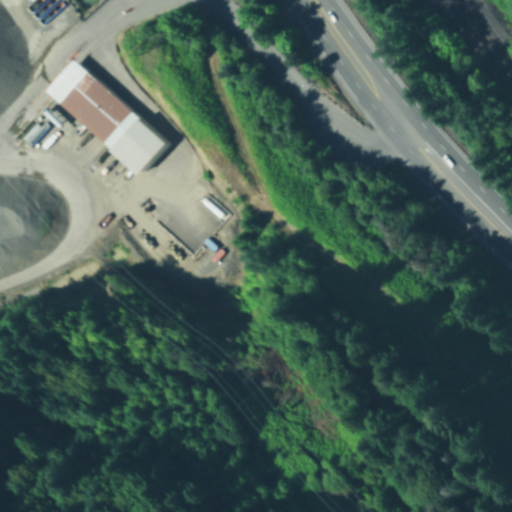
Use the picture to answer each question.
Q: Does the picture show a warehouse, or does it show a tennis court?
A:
warehouse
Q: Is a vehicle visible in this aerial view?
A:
Yes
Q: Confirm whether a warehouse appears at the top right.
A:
No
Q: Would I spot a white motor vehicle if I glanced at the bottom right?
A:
No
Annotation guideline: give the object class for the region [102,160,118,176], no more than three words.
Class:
vehicle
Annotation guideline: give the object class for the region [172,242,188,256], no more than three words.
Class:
work vehicle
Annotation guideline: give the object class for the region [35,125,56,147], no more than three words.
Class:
truck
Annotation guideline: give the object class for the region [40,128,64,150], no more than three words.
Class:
truck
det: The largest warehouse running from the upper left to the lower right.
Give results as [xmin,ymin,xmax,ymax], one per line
[46,60,167,174]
